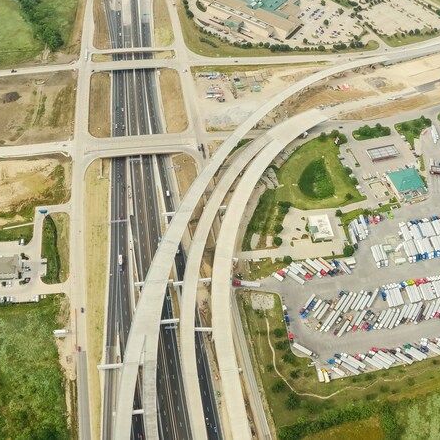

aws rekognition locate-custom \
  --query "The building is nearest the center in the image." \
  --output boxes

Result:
[307,214,334,241]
